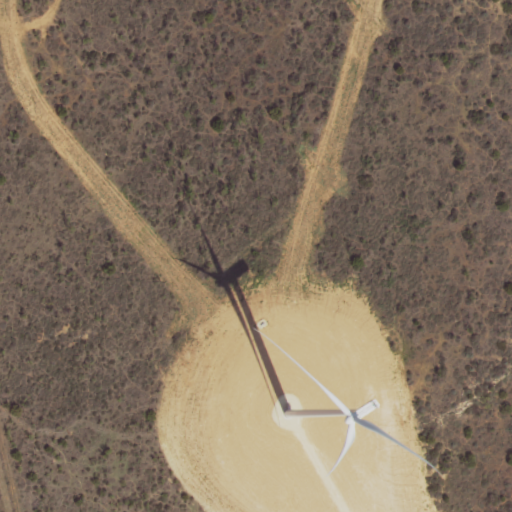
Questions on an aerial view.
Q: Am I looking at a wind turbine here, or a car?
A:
wind turbine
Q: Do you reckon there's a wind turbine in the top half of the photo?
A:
No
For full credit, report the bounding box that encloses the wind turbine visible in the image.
[255,328,442,477]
